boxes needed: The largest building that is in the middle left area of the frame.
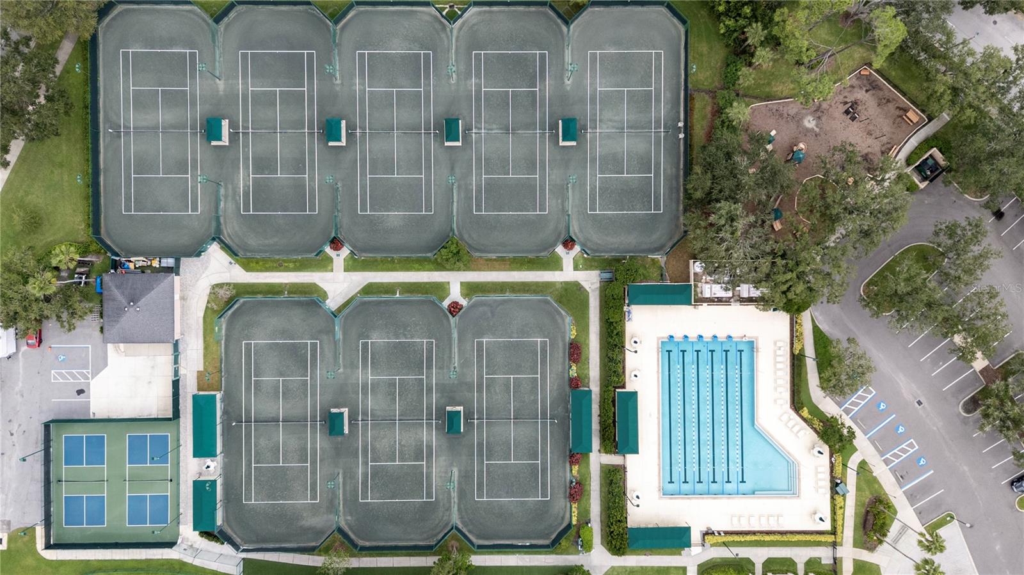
[102,273,180,343]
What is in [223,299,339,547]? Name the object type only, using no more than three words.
tennis court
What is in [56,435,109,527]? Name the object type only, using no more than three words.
sports court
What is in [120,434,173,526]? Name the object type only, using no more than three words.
sports court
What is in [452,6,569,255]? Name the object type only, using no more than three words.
tennis court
